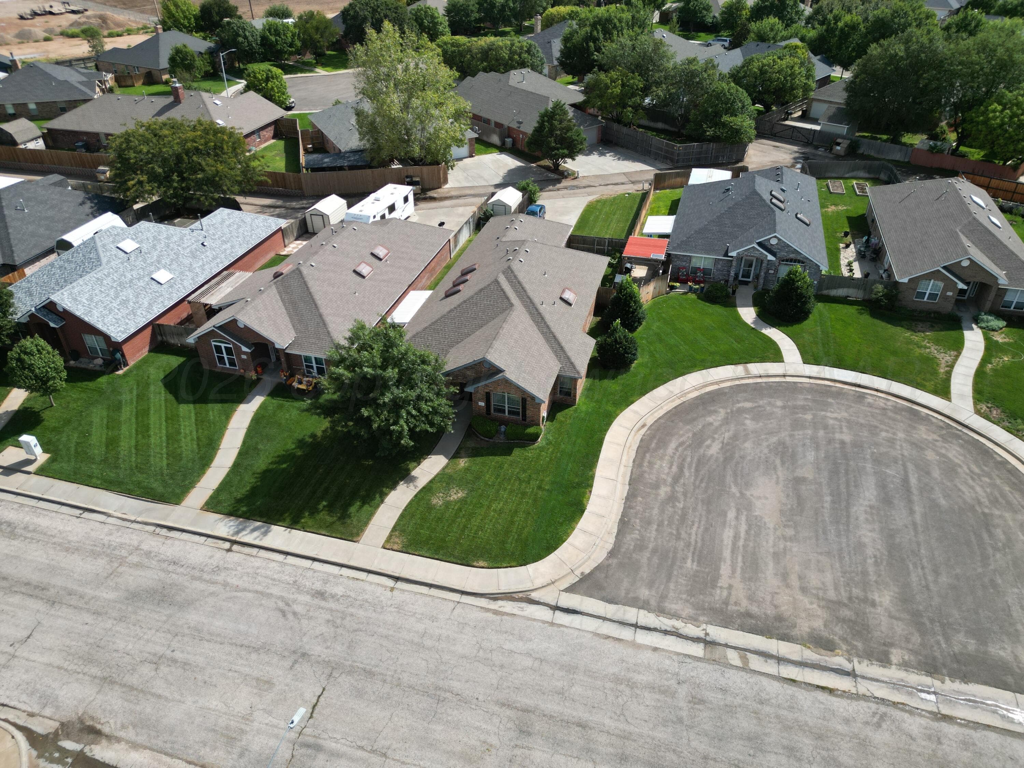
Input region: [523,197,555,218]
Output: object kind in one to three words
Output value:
car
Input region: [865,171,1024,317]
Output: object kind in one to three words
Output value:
house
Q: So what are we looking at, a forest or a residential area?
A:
residential area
